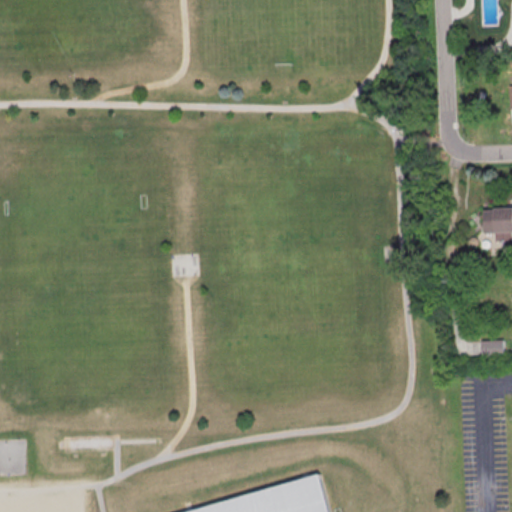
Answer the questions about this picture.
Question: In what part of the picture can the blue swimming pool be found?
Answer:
top right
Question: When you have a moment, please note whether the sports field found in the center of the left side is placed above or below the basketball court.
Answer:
above it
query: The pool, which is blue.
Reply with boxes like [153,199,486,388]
[482,0,504,27]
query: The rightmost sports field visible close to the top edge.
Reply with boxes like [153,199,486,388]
[204,0,378,68]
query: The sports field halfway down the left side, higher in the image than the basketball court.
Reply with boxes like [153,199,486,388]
[2,137,148,272]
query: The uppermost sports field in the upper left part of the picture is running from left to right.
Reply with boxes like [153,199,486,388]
[0,0,140,62]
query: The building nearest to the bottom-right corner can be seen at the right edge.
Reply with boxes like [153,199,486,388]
[482,340,506,354]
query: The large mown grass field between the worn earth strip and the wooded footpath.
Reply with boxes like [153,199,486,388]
[206,130,388,392]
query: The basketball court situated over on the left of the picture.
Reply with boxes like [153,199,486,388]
[0,439,27,476]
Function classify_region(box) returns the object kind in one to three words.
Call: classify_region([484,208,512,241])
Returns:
house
